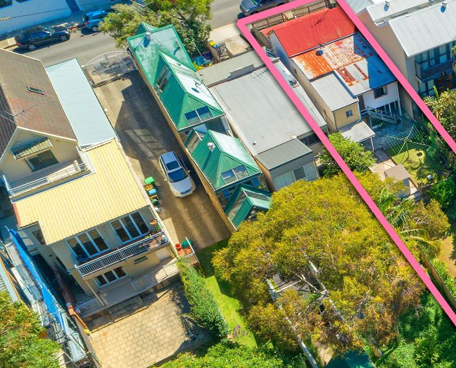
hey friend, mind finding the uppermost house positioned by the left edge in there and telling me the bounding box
[0,51,176,290]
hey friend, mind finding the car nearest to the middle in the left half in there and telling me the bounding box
[153,148,195,196]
